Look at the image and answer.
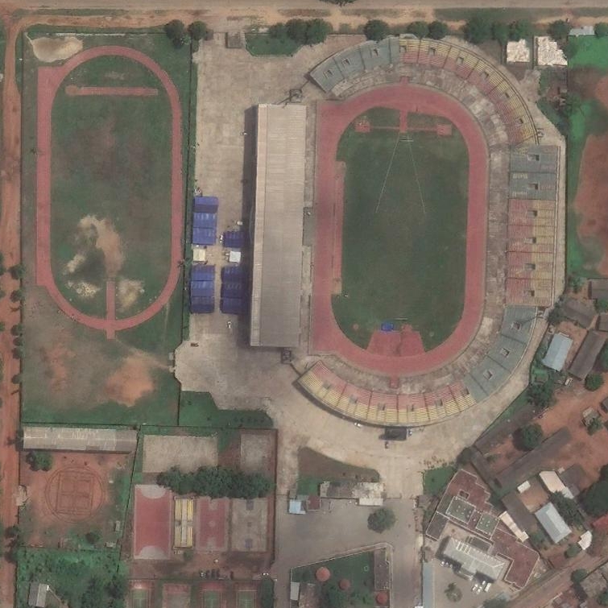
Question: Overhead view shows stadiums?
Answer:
Yes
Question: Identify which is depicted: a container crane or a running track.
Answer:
running track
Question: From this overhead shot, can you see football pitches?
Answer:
Yes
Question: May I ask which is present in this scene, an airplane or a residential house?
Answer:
residential house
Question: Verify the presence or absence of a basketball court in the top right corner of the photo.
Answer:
No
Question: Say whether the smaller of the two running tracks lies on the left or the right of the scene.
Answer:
left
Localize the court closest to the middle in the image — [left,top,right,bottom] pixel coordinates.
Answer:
[241,434,275,473]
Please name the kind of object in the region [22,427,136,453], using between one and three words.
building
